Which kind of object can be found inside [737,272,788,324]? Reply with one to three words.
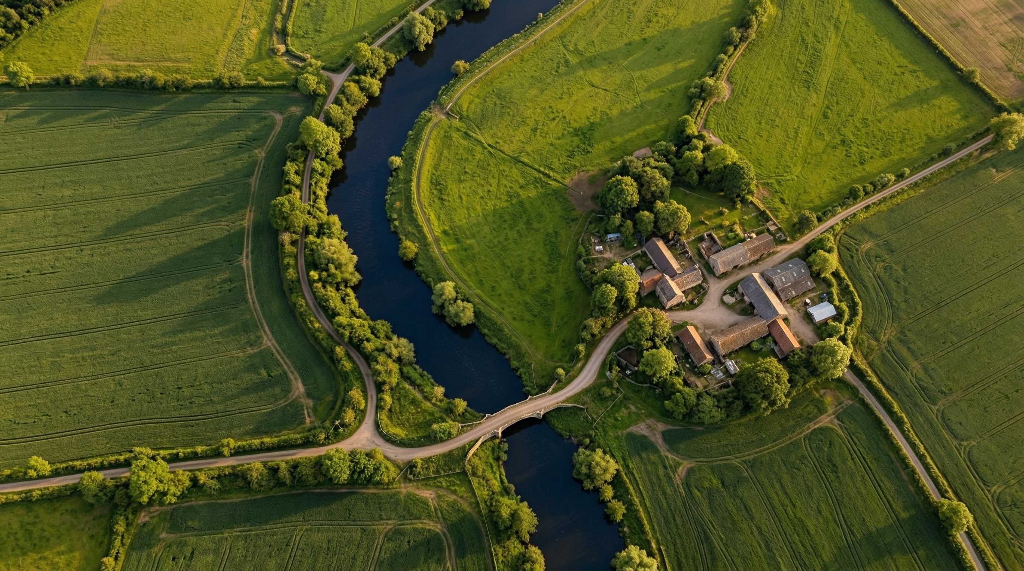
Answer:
barn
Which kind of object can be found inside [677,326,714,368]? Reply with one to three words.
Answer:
shed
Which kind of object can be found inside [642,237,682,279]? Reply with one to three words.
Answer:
barn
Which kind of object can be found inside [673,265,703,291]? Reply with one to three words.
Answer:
house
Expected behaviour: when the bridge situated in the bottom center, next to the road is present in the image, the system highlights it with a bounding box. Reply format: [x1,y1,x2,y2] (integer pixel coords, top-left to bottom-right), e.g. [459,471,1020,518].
[461,392,584,472]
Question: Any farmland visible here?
Yes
